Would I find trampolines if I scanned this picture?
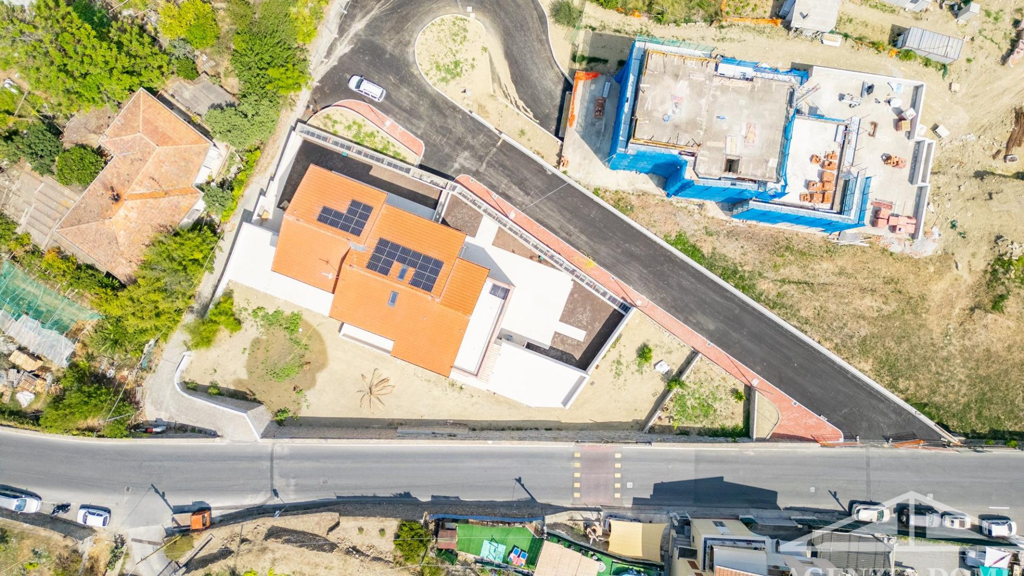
No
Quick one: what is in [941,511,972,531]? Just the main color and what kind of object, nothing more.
white car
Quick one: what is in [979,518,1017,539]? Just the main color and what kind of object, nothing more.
white car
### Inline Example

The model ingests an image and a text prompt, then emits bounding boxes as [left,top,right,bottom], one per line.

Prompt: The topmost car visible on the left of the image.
[347,74,388,103]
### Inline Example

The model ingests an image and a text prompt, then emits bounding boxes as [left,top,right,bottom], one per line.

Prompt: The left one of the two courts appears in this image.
[457,525,543,572]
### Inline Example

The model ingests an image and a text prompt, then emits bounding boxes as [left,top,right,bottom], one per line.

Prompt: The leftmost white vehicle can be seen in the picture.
[0,489,42,513]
